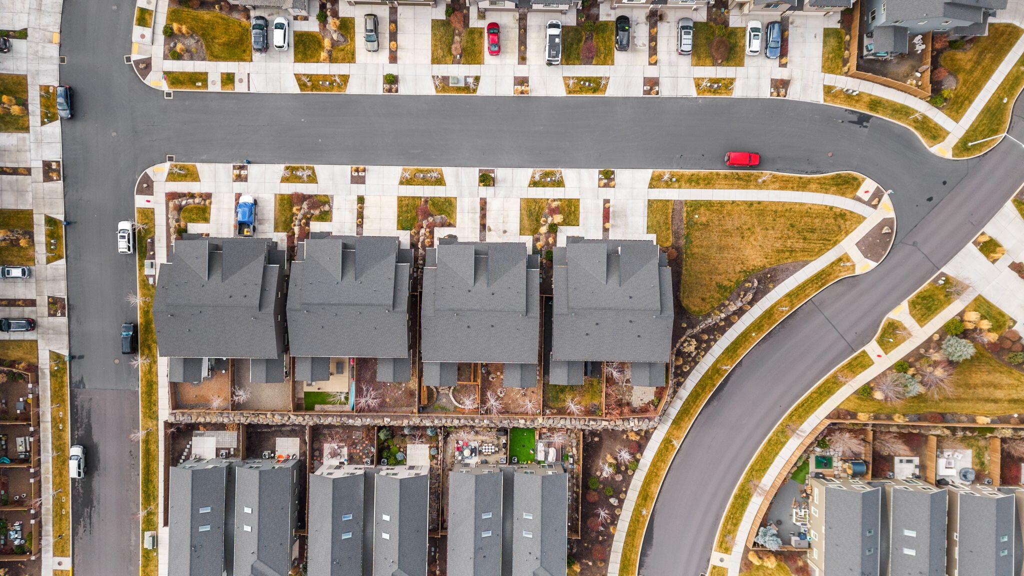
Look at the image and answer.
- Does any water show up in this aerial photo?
No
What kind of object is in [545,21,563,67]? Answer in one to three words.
vehicle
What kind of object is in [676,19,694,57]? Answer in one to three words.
car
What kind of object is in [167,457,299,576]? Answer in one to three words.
house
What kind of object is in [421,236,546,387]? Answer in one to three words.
house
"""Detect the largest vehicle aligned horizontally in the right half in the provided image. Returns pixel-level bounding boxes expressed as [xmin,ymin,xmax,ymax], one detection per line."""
[725,151,761,168]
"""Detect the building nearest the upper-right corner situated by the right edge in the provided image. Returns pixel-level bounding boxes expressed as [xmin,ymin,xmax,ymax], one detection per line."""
[864,0,1006,58]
